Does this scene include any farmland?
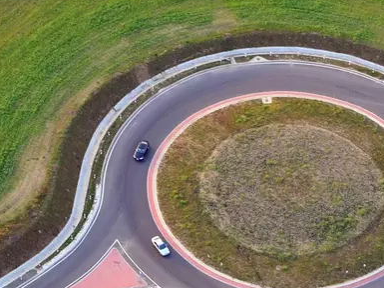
Yes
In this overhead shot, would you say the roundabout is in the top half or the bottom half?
bottom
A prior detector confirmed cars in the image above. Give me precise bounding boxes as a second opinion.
[135,139,151,158]
[151,233,170,256]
